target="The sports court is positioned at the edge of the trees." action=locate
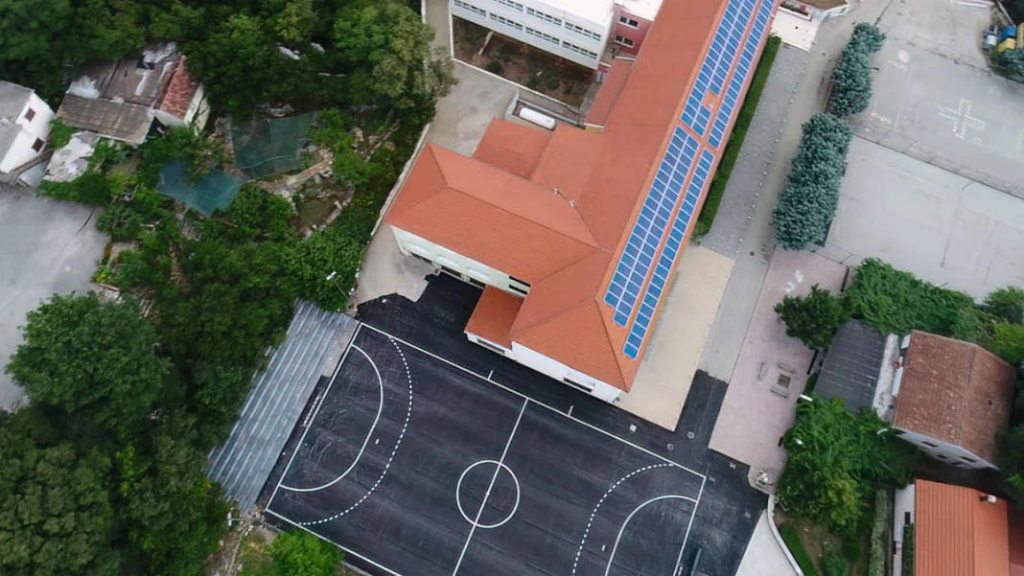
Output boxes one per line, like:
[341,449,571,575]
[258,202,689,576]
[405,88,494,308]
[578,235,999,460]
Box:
[265,325,709,576]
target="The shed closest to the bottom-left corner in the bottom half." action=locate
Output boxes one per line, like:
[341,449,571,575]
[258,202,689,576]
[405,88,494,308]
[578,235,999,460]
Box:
[204,304,358,510]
